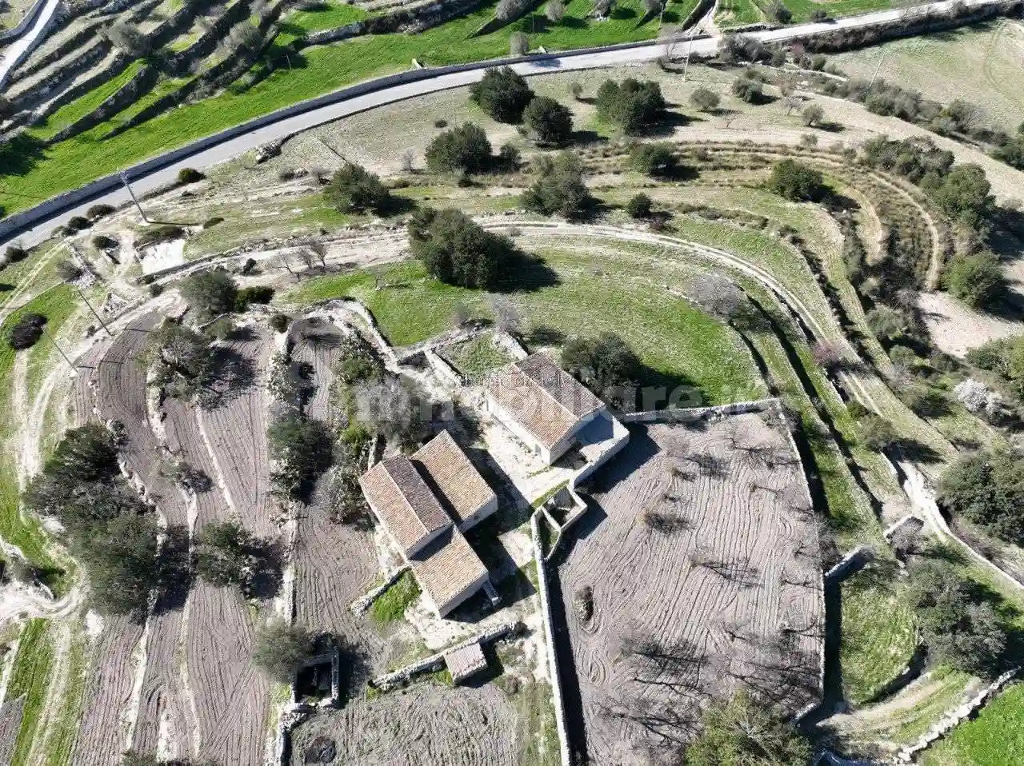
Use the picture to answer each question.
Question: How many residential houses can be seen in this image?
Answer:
2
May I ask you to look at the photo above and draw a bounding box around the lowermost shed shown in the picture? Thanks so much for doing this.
[443,642,488,683]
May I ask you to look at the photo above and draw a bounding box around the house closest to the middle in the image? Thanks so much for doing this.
[487,349,606,464]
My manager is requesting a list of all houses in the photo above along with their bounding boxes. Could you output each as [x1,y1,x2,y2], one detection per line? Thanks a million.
[487,349,606,464]
[357,429,497,617]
